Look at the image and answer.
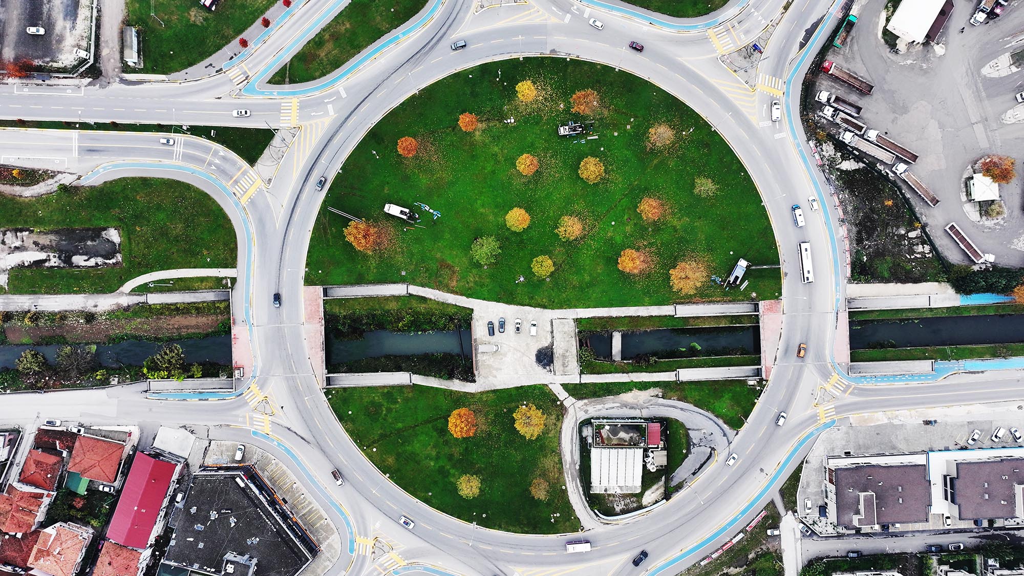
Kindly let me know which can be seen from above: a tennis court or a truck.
truck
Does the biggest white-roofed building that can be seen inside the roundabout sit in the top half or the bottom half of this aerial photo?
bottom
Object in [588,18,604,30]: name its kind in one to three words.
vehicle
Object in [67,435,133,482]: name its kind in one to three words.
house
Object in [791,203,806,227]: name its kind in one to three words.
vehicle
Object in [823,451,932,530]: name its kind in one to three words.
building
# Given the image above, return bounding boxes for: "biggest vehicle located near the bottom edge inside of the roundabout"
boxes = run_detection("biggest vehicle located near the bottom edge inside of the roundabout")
[566,541,592,553]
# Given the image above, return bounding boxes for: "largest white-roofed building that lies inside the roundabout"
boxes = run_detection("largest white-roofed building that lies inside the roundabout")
[589,445,643,493]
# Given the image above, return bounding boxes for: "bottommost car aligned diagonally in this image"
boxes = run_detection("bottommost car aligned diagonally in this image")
[632,548,649,566]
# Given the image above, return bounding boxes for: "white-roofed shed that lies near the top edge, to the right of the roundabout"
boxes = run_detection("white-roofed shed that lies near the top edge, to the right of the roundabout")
[875,0,956,50]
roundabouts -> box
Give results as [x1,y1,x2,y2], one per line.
[250,0,849,576]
